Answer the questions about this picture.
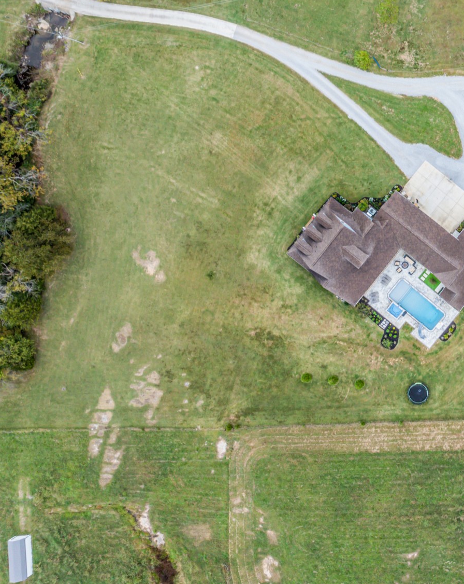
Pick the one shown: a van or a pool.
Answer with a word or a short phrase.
pool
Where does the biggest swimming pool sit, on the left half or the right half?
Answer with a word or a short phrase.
right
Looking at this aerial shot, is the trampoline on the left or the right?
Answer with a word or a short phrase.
right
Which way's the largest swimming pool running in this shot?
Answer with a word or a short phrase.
diagonally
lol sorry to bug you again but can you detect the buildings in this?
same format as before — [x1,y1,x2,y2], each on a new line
[8,535,33,583]
[287,191,464,311]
